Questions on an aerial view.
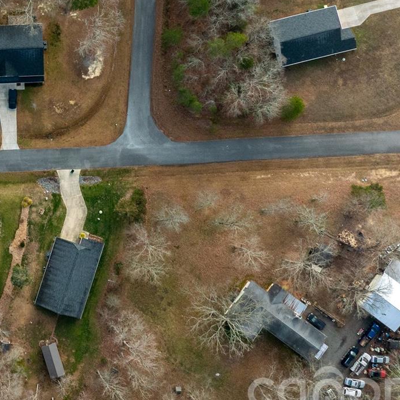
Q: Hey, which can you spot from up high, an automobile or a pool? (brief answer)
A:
automobile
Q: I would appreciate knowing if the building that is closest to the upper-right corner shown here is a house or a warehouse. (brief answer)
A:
house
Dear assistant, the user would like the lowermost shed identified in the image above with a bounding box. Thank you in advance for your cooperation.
[41,339,65,379]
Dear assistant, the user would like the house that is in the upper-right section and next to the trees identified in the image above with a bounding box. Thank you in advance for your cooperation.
[265,6,358,68]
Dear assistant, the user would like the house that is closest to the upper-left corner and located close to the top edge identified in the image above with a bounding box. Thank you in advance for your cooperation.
[0,15,45,84]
